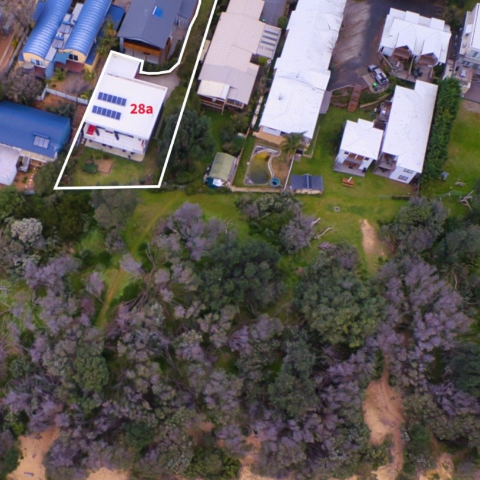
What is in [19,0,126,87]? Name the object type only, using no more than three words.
house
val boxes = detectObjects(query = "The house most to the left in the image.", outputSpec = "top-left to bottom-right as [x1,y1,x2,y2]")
[0,104,71,186]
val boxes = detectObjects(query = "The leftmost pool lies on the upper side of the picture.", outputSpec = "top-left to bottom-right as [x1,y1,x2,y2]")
[244,145,280,185]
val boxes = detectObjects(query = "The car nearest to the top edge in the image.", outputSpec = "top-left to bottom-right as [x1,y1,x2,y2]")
[366,65,392,84]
